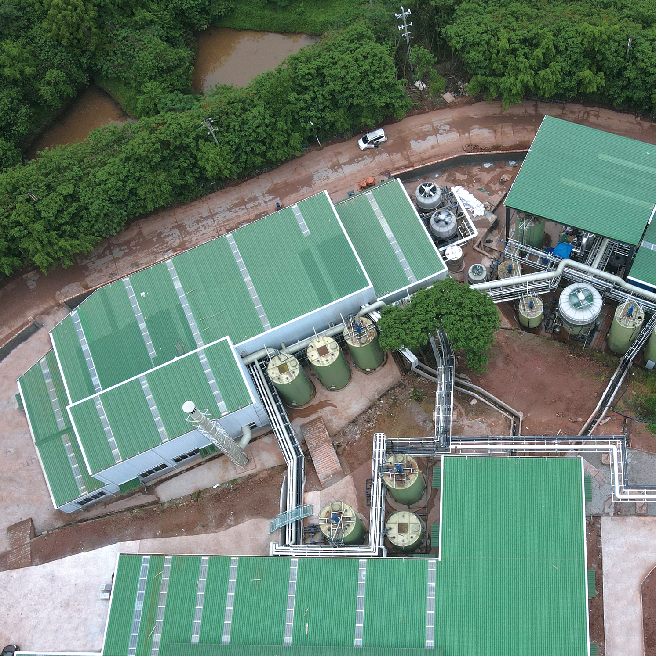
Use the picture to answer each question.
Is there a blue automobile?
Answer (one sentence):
No, this view has no blue automobile in it.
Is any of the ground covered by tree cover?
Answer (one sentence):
Yes, tree cover can be seen from above here.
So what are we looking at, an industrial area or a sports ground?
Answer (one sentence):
What you see here is an industrial area.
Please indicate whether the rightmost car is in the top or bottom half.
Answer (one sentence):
The rightmost car is in the top half of the image.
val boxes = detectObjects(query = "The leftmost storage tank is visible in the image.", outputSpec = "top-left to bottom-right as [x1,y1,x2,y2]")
[265,354,314,405]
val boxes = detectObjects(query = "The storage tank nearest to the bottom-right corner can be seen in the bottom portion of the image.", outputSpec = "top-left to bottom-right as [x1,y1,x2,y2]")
[385,512,427,558]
